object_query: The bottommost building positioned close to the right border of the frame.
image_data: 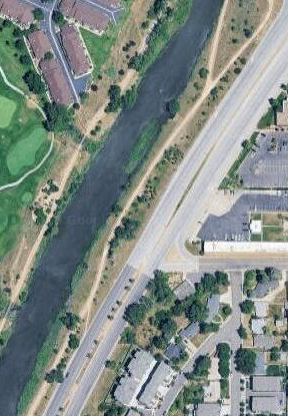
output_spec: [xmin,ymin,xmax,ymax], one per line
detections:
[252,394,284,412]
